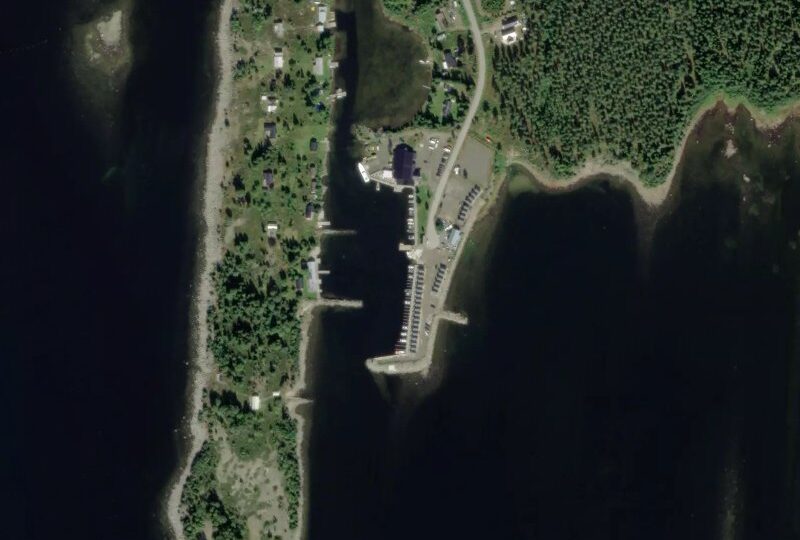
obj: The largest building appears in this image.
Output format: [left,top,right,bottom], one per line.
[393,150,420,187]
